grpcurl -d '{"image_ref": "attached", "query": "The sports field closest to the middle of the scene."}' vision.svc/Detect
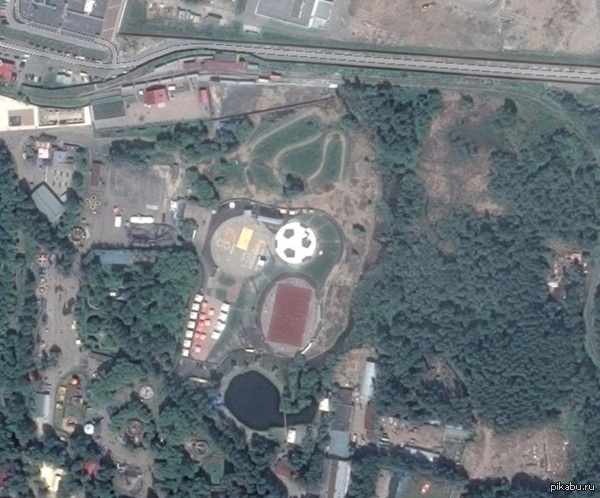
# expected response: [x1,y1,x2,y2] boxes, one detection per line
[261,209,342,288]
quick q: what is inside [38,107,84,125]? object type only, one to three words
building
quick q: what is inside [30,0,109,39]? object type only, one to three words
building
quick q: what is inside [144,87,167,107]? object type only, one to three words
house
